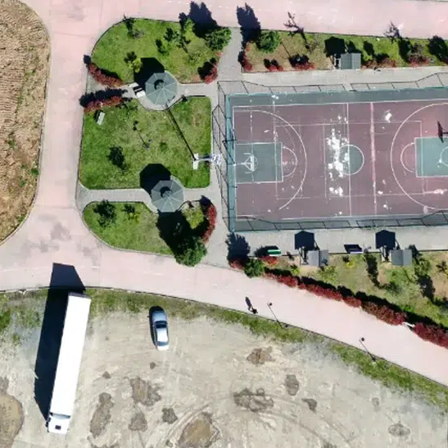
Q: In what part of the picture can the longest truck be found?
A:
bottom left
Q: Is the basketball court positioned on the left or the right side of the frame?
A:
right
